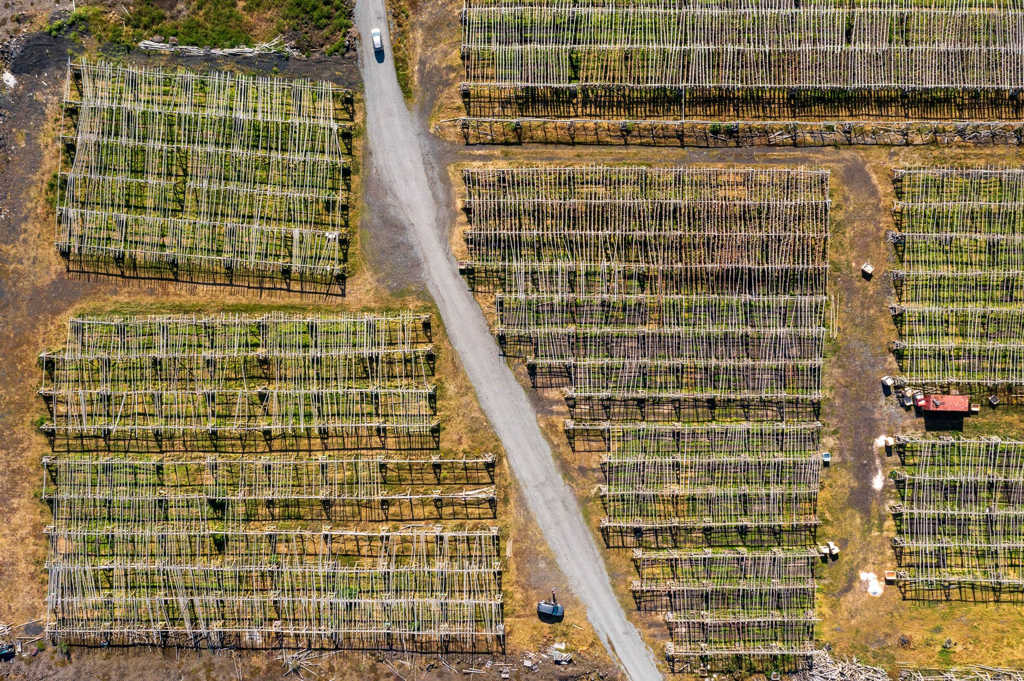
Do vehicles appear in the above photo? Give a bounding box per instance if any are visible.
[536,598,564,617]
[370,29,384,53]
